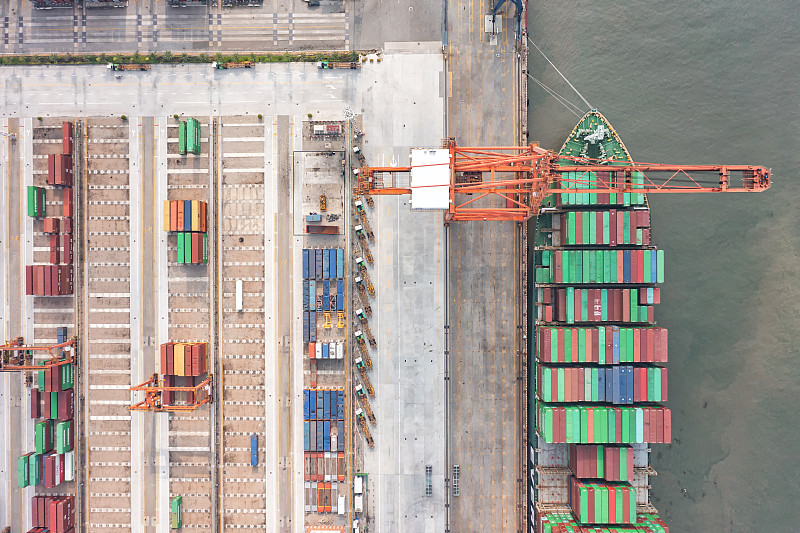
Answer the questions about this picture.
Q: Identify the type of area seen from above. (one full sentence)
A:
The area seen from above is a port.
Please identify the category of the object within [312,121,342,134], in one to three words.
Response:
building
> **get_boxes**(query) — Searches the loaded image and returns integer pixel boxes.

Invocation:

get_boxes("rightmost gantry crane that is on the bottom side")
[134,372,212,413]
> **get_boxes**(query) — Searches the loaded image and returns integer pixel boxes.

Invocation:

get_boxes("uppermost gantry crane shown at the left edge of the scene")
[0,334,76,373]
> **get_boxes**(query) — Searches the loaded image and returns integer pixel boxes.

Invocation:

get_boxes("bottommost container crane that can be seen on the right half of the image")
[355,138,777,234]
